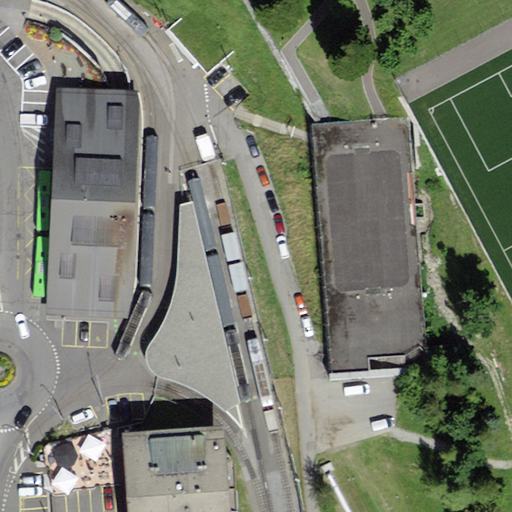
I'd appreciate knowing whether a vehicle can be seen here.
Yes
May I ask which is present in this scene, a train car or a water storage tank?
train car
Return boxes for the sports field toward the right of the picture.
[407,49,512,302]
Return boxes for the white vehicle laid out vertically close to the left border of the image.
[16,314,28,338]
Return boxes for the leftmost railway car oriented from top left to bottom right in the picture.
[104,0,148,36]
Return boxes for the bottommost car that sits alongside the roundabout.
[14,406,32,428]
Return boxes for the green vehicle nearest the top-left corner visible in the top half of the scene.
[34,170,48,233]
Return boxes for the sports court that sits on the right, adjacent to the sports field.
[326,148,410,296]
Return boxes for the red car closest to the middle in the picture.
[273,214,285,235]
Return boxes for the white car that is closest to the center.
[276,235,289,259]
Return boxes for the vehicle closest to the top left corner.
[2,37,23,56]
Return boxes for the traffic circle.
[0,335,33,407]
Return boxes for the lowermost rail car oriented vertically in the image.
[264,408,280,432]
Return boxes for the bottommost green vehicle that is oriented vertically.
[32,236,47,298]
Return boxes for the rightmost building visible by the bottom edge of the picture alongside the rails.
[120,427,237,512]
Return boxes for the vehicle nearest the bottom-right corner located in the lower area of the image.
[369,416,396,431]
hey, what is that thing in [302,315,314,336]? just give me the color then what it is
white vehicle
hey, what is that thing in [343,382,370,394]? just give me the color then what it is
white vehicle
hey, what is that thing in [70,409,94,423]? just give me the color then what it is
white car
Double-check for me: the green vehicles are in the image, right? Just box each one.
[32,236,47,298]
[34,170,48,233]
